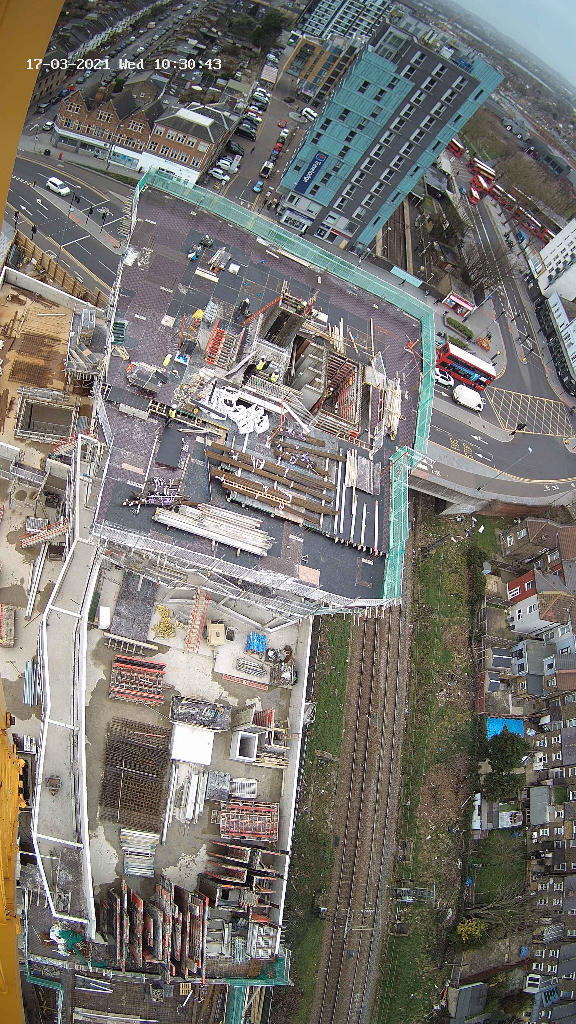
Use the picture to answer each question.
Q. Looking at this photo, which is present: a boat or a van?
van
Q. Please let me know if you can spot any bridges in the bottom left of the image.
No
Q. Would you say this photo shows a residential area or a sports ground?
residential area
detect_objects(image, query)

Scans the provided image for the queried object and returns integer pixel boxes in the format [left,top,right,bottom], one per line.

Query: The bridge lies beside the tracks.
[391,479,458,521]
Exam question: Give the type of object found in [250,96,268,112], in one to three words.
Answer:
car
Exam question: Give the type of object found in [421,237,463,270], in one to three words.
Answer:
building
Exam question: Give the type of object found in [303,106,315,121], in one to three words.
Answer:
vehicle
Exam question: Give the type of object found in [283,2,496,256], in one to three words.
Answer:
building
